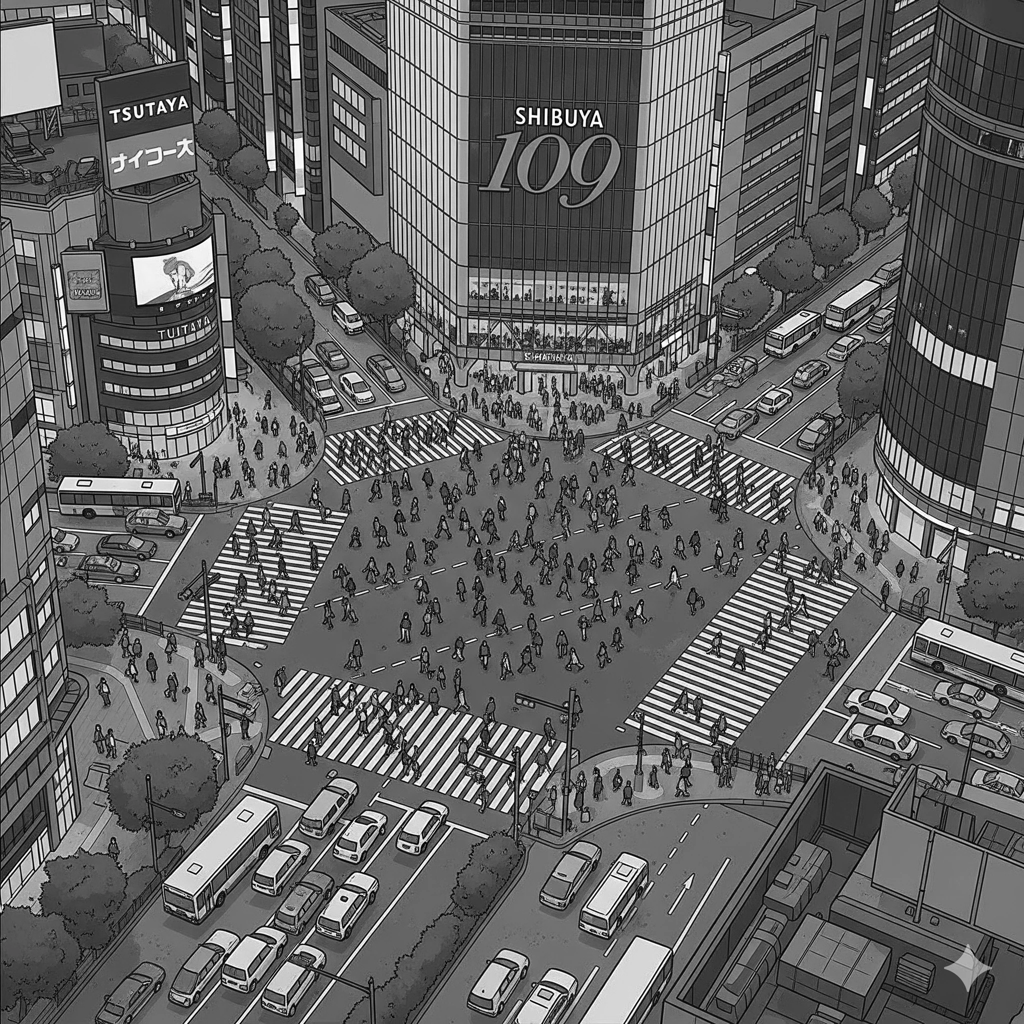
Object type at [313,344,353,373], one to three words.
car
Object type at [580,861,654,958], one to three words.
vehicle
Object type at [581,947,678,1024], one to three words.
bus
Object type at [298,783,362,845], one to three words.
van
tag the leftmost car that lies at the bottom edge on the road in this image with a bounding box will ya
[93,969,169,1024]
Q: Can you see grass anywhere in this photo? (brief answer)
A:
No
